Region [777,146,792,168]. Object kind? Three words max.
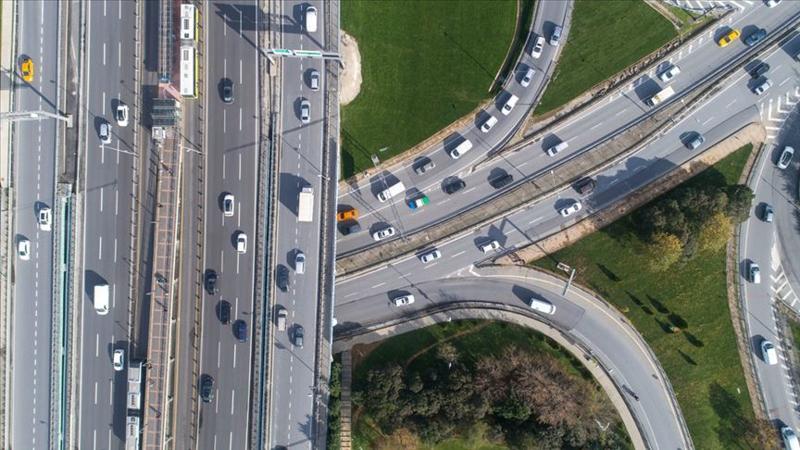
car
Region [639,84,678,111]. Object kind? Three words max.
truck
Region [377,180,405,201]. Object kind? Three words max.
vehicle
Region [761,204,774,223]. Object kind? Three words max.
vehicle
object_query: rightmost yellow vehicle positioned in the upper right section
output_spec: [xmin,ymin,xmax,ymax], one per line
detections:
[717,30,740,46]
